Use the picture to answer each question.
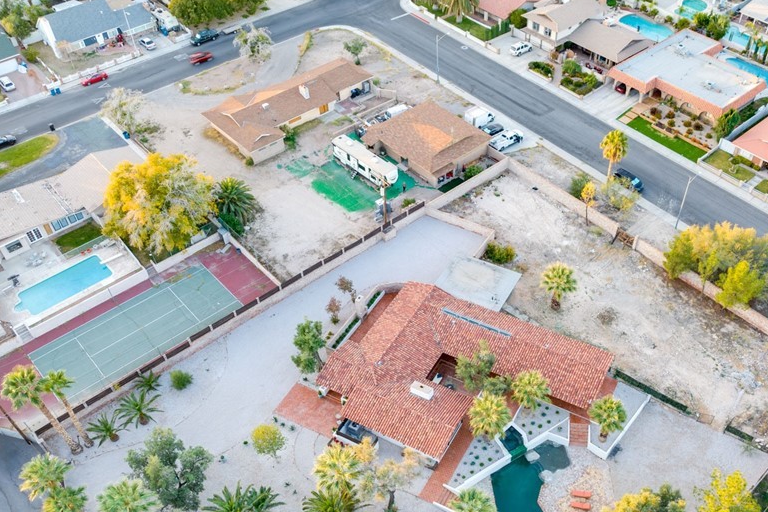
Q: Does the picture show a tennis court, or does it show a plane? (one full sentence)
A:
Looking from above, you can make out a tennis court.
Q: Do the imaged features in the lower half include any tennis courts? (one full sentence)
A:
Yes, the scene does show a tennis court in the lower half.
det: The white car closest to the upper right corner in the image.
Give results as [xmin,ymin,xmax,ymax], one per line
[509,40,533,55]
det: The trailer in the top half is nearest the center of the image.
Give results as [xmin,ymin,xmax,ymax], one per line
[332,136,399,187]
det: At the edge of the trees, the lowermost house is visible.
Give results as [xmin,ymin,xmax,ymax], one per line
[316,282,610,469]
